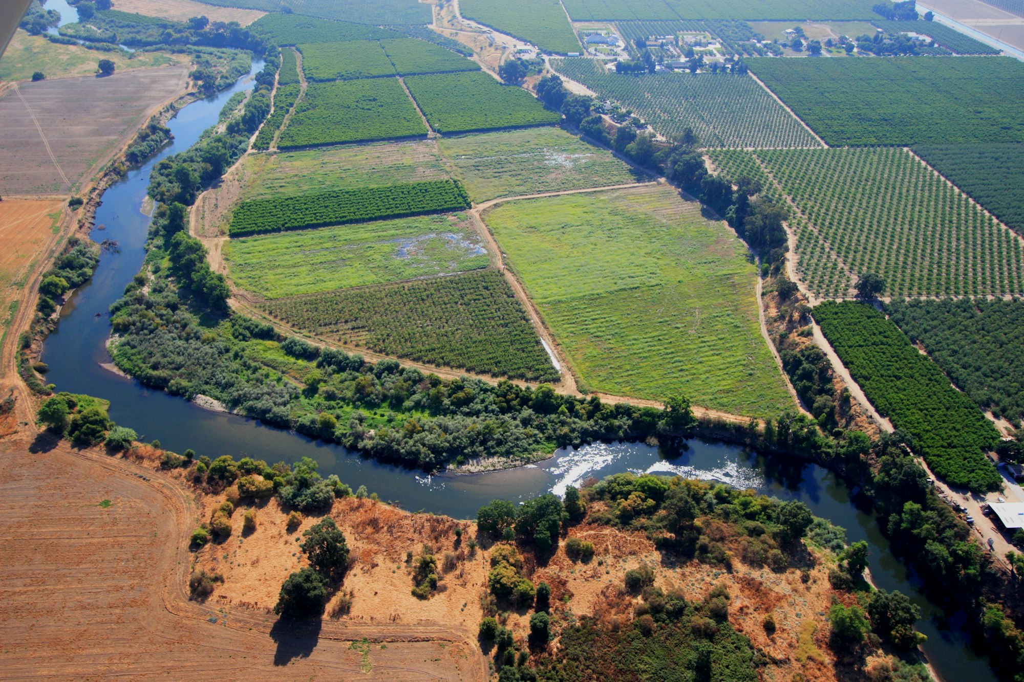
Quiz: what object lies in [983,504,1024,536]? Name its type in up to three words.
shed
